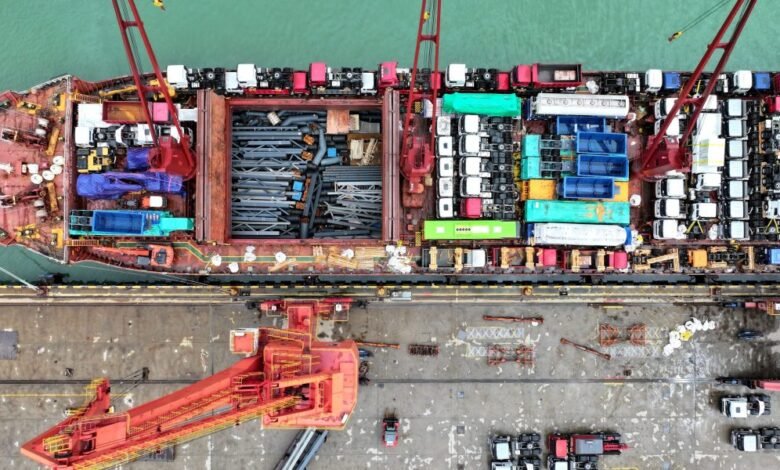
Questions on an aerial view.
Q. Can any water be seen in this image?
Yes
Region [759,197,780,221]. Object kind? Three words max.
truck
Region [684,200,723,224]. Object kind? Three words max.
truck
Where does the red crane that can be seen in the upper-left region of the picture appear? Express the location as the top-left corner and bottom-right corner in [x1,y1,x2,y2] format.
[108,0,197,194]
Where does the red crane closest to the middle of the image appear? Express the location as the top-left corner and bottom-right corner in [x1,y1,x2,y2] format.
[400,0,441,195]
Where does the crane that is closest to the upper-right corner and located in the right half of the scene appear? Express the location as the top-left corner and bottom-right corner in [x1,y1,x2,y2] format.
[633,0,762,198]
